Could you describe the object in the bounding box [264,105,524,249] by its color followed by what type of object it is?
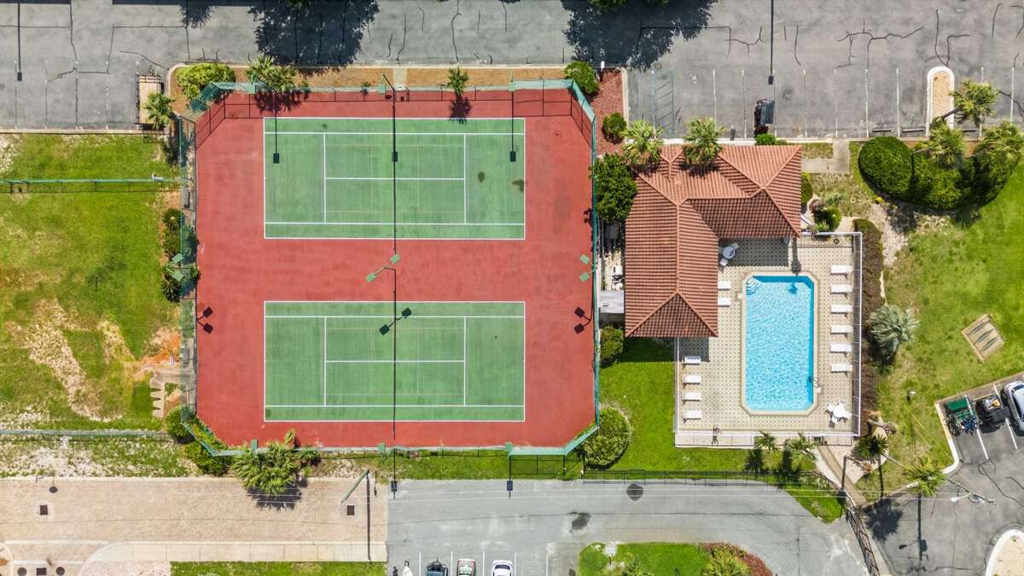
green tennis court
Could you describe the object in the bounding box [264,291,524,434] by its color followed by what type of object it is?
green tennis court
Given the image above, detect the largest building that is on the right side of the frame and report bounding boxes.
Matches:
[625,144,802,338]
